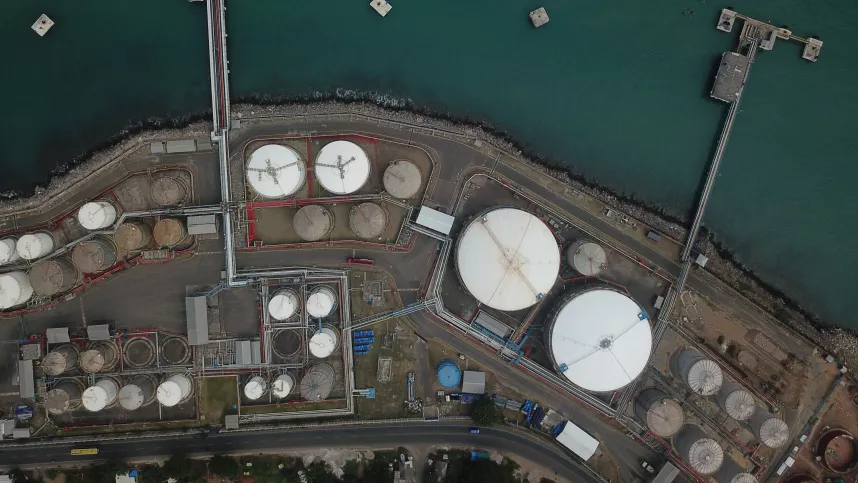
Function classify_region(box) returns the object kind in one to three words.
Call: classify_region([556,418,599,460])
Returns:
building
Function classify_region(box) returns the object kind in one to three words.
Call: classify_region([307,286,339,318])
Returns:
storage tank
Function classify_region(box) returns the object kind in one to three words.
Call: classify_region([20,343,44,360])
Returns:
shed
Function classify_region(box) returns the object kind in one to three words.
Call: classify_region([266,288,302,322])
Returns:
storage tank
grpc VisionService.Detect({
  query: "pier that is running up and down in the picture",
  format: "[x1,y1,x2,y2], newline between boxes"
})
[207,0,231,140]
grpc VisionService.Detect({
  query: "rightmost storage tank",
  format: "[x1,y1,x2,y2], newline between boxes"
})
[815,428,858,474]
